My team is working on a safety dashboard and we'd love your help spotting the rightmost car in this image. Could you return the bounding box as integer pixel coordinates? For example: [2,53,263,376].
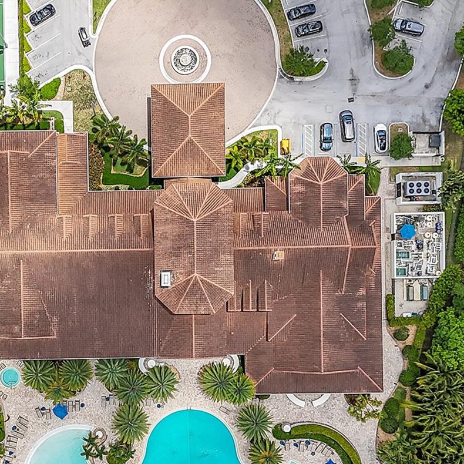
[395,16,428,35]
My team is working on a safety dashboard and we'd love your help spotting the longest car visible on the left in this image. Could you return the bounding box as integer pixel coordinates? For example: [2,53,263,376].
[27,4,55,26]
